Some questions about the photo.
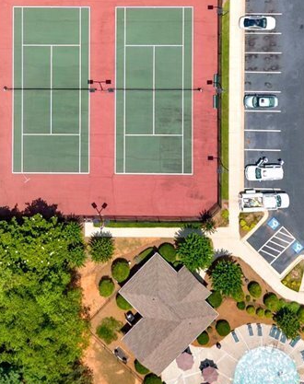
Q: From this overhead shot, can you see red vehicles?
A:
No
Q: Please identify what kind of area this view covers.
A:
sports ground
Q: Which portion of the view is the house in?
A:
bottom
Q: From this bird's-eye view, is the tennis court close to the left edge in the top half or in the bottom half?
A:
top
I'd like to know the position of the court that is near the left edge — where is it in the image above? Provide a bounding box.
[0,0,102,219]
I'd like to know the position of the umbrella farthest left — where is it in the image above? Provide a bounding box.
[176,353,193,370]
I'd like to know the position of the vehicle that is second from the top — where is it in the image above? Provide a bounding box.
[244,94,278,109]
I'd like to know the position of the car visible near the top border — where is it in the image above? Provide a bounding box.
[239,15,275,31]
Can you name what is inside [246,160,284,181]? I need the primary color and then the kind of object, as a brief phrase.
white vehicle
